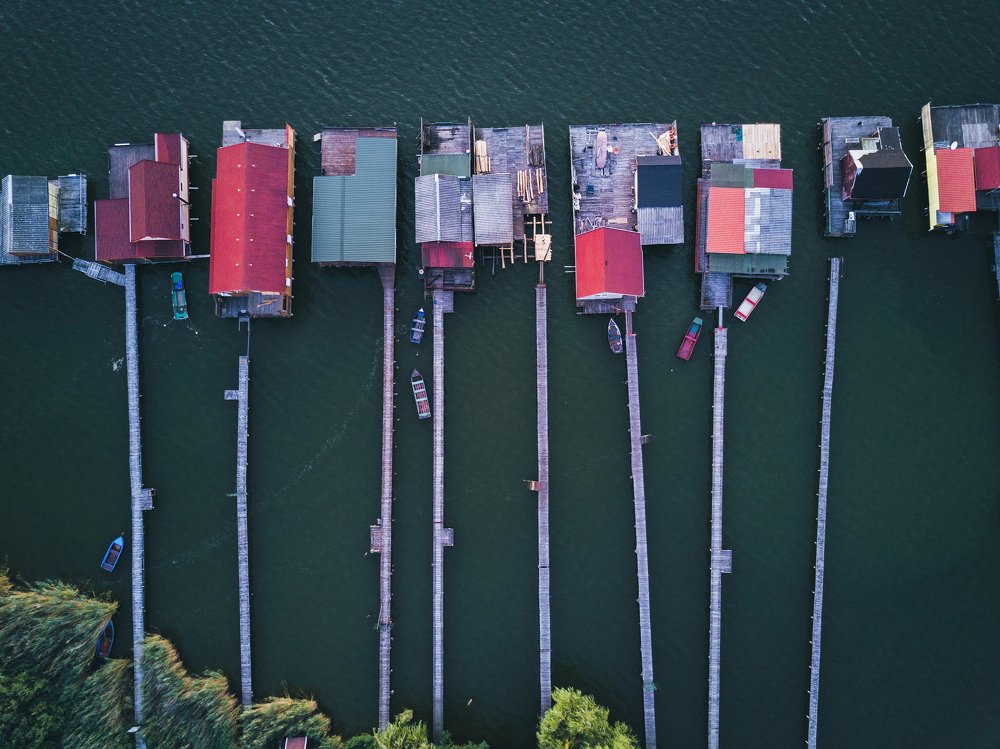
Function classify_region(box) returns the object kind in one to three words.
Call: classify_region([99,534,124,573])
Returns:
boat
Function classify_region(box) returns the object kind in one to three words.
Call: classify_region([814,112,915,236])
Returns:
house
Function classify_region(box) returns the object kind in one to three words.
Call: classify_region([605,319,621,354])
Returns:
boat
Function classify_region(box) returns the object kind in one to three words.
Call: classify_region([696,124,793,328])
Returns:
house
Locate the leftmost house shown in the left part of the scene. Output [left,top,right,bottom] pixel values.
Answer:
[0,172,91,264]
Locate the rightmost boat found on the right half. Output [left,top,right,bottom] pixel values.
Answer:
[733,281,768,323]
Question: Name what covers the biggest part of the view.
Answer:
water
